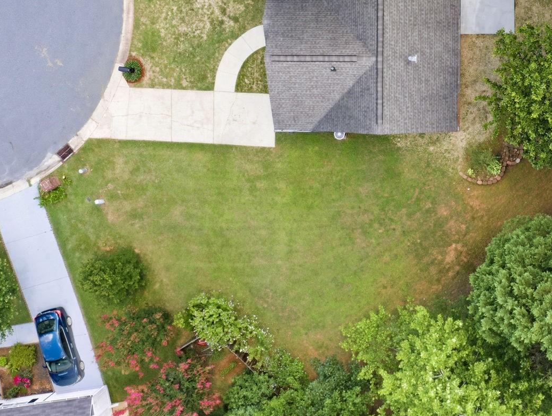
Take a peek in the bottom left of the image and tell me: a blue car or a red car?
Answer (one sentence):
It is a blue car that can be seen in the bottom left of the image.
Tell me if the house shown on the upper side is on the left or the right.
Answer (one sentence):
You can find the house shown on the upper side on the right side of the picture.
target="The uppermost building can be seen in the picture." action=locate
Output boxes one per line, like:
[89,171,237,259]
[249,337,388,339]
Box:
[263,0,462,134]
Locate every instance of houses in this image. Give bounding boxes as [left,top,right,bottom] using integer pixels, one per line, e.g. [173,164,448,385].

[263,0,462,134]
[0,380,116,416]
